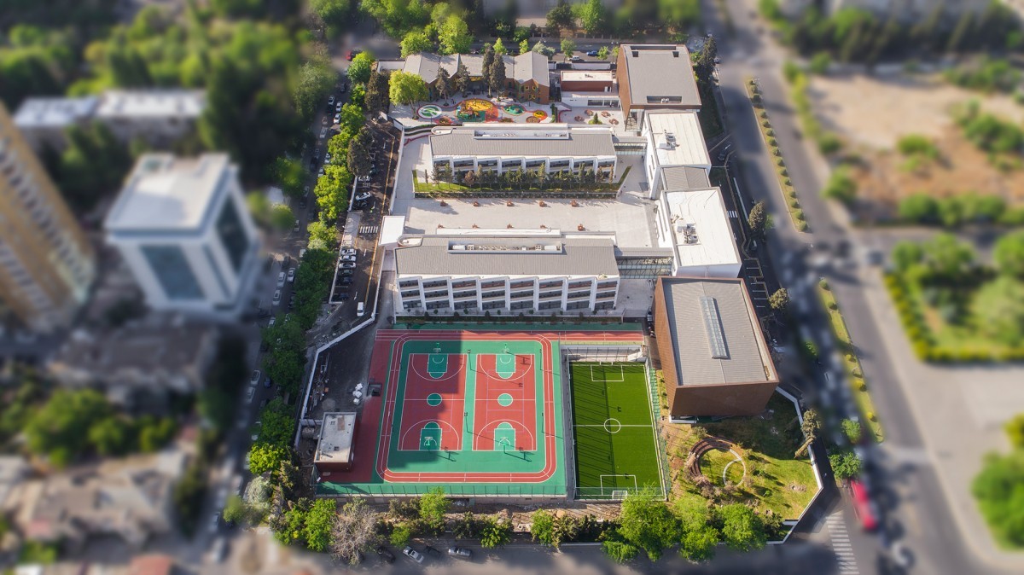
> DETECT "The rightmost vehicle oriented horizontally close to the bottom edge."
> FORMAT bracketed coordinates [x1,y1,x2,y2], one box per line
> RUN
[447,544,471,556]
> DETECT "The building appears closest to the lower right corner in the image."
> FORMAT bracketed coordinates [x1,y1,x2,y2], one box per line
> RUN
[651,278,780,423]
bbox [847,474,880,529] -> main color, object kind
red bus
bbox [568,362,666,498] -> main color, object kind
green soccer field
